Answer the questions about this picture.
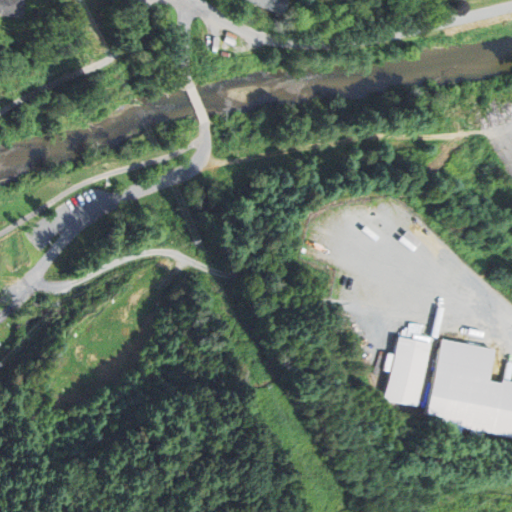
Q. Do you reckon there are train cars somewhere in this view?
No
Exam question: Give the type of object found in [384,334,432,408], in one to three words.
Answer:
shed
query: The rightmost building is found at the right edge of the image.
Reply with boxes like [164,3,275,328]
[428,338,512,434]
